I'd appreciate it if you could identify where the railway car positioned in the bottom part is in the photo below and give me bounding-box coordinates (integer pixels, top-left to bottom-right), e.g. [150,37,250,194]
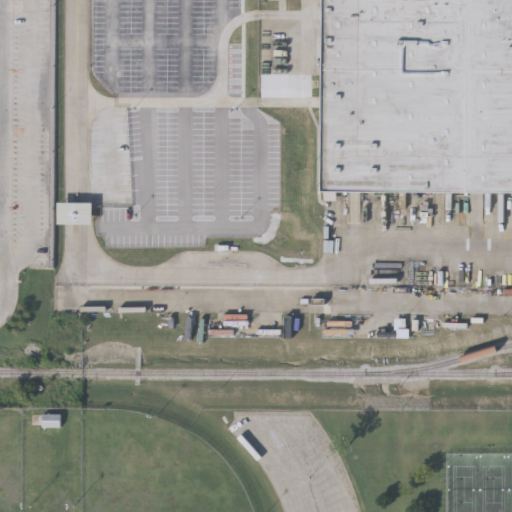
[462,346,500,364]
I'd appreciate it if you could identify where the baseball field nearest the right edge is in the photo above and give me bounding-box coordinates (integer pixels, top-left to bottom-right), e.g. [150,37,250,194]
[84,410,252,512]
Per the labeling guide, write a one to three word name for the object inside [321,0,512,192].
building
